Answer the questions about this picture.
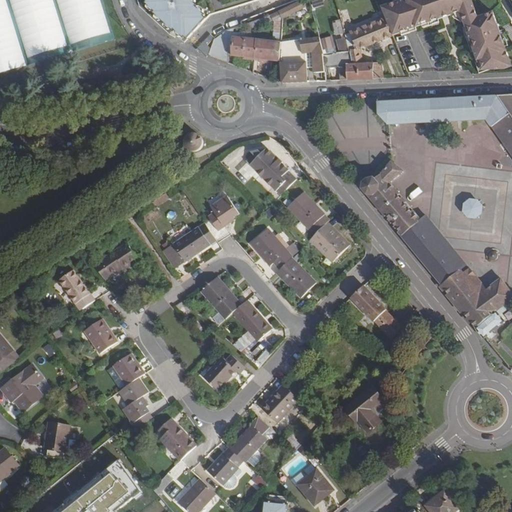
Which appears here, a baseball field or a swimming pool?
swimming pool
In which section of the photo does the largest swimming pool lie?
bottom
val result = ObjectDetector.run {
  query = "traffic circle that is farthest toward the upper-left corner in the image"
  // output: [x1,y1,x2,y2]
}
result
[200,78,253,130]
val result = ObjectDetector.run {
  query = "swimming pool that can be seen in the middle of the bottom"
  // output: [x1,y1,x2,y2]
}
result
[282,452,308,477]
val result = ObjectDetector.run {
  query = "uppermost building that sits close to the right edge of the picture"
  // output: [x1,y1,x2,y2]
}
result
[346,0,510,72]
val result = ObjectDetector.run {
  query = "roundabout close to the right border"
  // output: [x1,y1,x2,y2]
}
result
[450,374,512,446]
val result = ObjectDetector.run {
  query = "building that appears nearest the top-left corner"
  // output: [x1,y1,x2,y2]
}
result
[0,0,113,76]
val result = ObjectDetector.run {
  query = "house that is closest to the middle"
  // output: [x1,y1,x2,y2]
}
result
[250,227,289,265]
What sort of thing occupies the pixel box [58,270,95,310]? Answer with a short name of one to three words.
house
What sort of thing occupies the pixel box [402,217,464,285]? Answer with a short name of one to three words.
building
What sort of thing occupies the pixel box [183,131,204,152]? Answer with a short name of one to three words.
building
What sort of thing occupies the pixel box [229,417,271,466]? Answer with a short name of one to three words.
house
